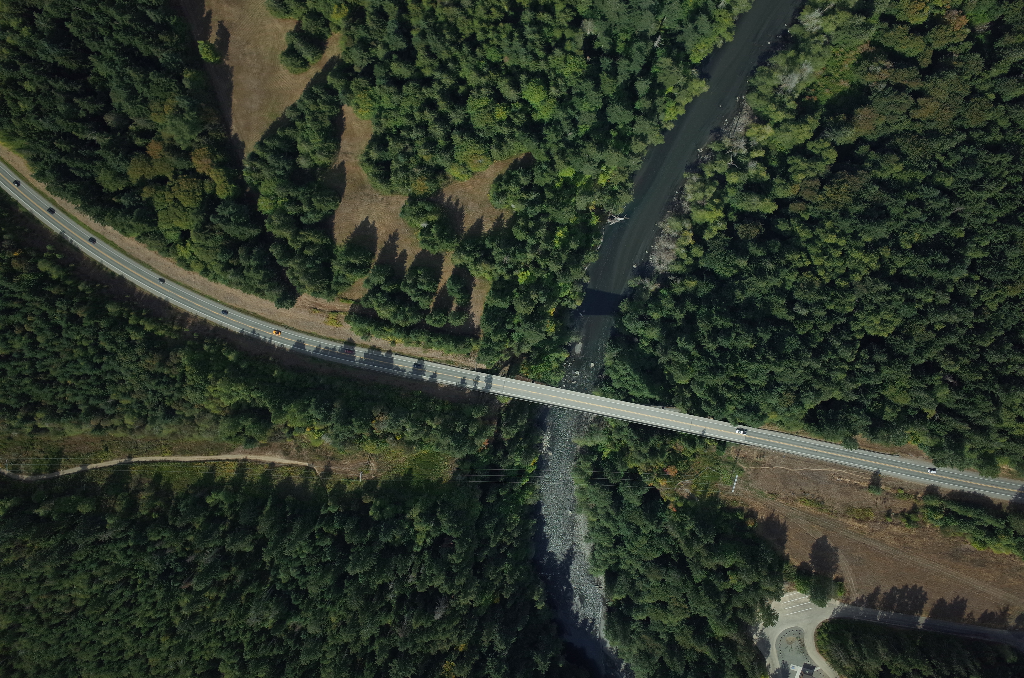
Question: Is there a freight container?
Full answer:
No, I can see no freight container in this picture.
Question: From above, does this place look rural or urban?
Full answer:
It looks rural.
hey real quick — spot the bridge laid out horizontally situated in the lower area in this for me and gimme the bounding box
[501,376,748,445]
